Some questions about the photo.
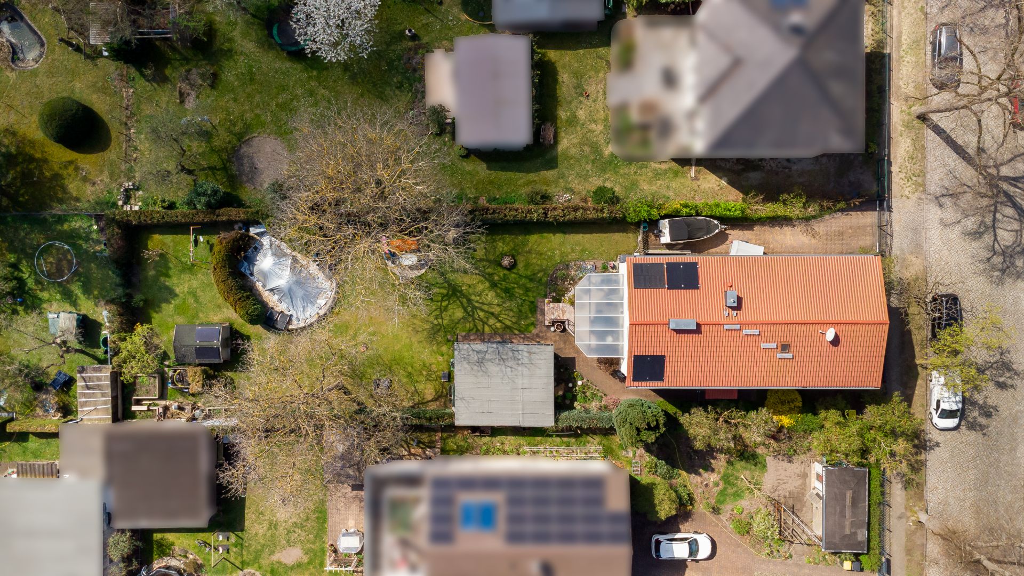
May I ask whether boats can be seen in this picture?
Yes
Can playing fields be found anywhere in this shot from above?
No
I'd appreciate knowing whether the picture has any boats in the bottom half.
No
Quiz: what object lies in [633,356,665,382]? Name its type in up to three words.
solar panel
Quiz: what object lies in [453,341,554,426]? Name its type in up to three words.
building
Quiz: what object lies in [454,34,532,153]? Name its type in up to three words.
house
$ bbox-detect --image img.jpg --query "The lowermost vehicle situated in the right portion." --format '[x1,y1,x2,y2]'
[652,530,711,563]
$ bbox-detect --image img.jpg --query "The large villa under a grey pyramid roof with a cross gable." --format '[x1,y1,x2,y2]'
[683,0,866,162]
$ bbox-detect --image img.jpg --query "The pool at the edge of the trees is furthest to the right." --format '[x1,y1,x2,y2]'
[238,228,338,334]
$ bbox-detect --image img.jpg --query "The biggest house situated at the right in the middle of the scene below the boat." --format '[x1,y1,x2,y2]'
[618,253,891,400]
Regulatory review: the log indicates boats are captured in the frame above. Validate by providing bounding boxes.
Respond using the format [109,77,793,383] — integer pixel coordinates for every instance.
[653,218,722,243]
